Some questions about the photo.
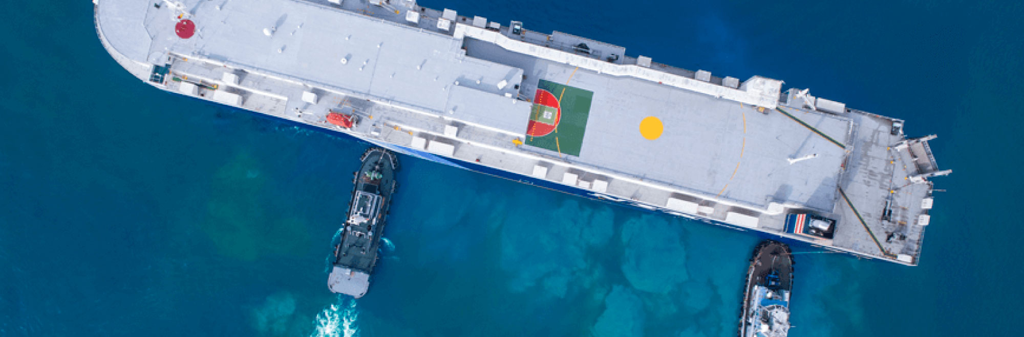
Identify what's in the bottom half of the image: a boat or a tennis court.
boat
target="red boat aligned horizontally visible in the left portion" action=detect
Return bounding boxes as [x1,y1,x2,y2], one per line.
[326,113,353,127]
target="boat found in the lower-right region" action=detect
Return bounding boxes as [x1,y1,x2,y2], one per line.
[738,241,796,337]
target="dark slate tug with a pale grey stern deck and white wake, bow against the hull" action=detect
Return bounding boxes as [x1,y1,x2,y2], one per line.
[328,146,398,298]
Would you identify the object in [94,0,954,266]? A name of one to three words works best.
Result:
ship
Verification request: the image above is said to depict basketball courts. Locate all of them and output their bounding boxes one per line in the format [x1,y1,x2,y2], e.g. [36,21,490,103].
[525,79,594,157]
